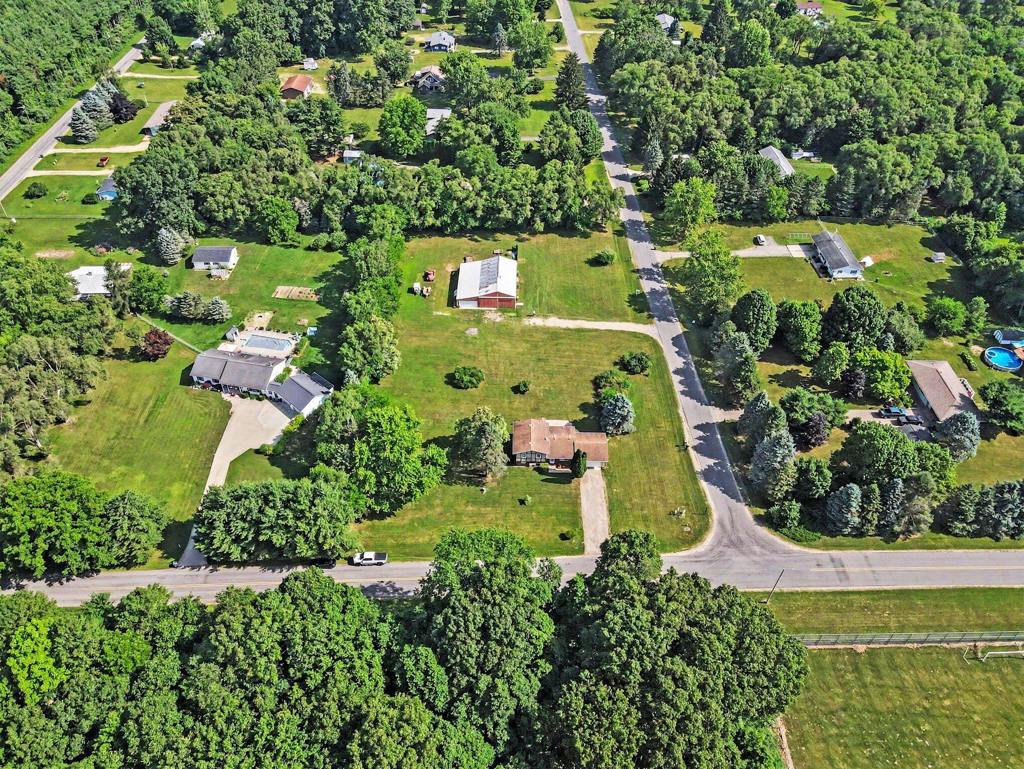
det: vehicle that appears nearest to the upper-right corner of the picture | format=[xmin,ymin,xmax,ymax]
[789,146,811,160]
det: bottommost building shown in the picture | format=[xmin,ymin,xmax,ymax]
[512,419,609,475]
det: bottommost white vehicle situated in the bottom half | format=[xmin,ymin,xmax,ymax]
[352,550,388,565]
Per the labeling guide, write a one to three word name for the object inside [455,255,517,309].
barn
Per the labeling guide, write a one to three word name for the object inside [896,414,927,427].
vehicle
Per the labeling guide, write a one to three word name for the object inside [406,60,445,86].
house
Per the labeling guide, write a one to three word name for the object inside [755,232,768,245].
vehicle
